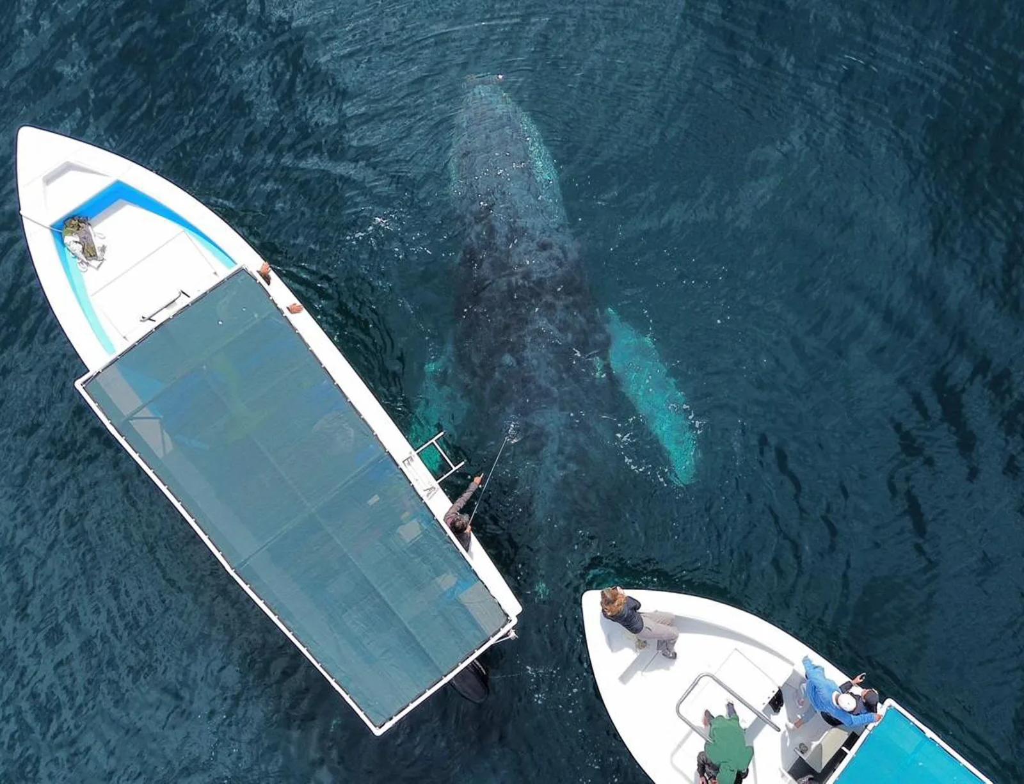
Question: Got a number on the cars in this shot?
0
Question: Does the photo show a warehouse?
No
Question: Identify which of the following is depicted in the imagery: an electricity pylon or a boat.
boat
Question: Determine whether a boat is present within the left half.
Yes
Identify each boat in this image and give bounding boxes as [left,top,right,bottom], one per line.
[8,120,521,733]
[576,585,1005,784]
